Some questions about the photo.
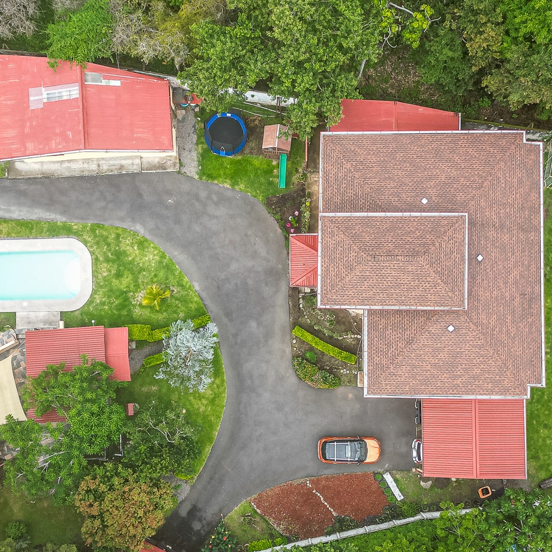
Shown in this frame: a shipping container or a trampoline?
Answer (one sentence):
The image shows a trampoline.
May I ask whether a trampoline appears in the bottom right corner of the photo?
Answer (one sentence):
No, I can find no trampoline in the bottom right corner of the photo.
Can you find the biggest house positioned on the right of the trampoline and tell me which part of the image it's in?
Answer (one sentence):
The biggest house positioned on the right of the trampoline is in the right part of the image.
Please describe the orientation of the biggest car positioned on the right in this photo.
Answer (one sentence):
In this picture, the biggest car positioned on the right is oriented from left to right.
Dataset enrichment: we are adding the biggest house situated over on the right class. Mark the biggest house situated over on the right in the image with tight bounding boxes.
[316,129,548,400]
